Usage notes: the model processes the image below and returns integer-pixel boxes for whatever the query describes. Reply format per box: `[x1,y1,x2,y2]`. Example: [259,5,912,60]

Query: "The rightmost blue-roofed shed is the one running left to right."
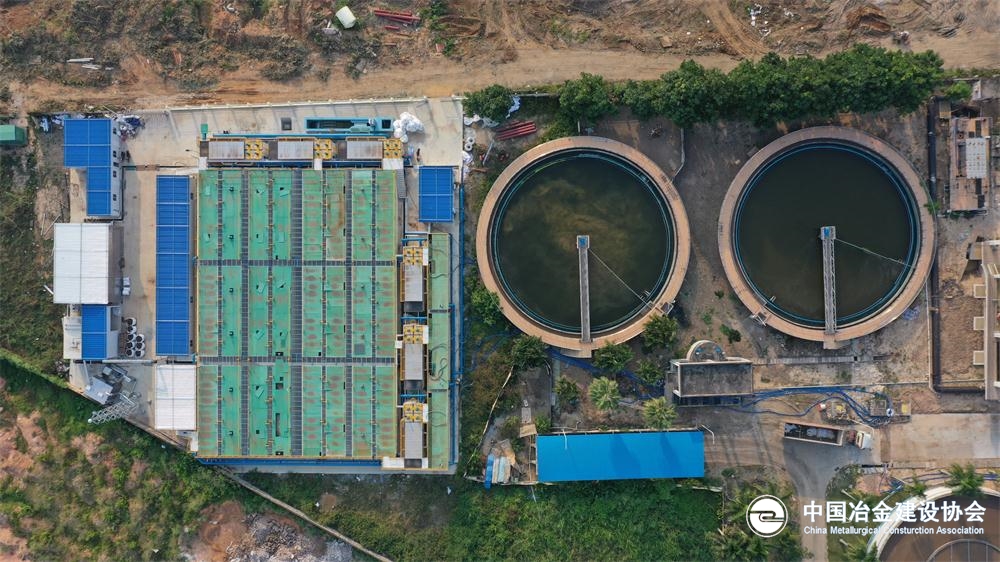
[536,424,704,483]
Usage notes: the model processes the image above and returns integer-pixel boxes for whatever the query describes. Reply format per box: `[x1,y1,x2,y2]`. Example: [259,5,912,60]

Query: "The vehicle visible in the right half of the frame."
[787,422,875,454]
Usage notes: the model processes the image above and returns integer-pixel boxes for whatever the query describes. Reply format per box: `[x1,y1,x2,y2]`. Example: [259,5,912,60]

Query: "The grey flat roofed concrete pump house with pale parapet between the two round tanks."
[672,362,753,397]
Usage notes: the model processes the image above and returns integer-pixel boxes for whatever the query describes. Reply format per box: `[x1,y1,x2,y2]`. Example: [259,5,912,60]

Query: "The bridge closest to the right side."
[823,235,841,337]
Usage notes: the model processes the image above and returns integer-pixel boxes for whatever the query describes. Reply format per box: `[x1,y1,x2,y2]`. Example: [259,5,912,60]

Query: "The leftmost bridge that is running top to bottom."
[579,242,593,341]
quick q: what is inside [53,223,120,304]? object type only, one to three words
building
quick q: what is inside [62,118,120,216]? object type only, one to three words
building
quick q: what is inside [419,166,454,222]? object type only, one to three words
shed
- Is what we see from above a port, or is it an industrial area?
industrial area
